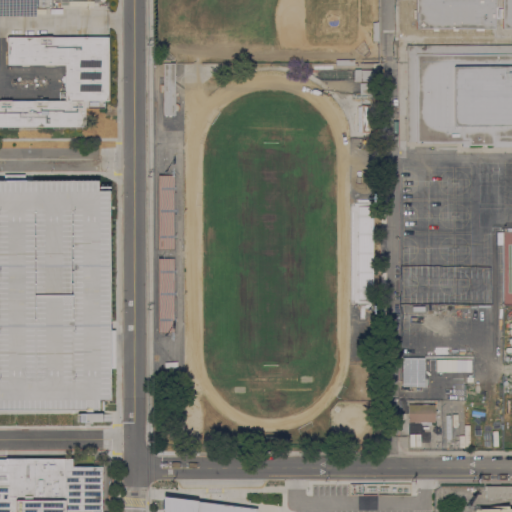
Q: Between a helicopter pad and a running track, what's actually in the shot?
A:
running track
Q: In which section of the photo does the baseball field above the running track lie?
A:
top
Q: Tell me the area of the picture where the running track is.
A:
center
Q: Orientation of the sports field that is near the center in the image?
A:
up and down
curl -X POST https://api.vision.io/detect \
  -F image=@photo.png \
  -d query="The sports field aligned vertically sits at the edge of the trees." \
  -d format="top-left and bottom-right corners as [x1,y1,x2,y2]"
[204,90,336,416]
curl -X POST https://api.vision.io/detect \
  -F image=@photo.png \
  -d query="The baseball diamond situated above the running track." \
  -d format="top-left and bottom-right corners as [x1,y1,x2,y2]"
[157,0,371,56]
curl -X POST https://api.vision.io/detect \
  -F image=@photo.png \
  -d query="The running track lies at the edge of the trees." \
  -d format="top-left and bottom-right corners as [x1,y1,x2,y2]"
[186,70,351,431]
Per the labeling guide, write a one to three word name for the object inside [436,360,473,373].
shed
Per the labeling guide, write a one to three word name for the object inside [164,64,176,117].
building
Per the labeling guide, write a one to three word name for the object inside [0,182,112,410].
building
